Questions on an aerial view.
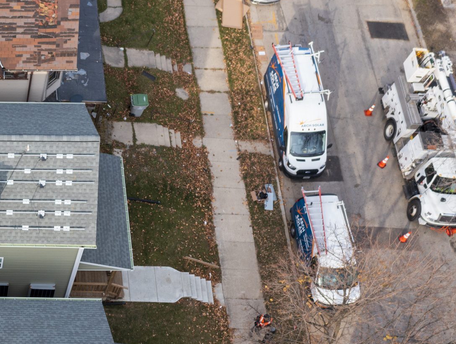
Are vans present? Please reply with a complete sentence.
Yes, a van appears in the view.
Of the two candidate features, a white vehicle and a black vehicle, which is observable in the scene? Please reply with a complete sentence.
Of the two, only a white vehicle appears.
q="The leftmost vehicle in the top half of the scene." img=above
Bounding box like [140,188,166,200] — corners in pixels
[266,46,346,185]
